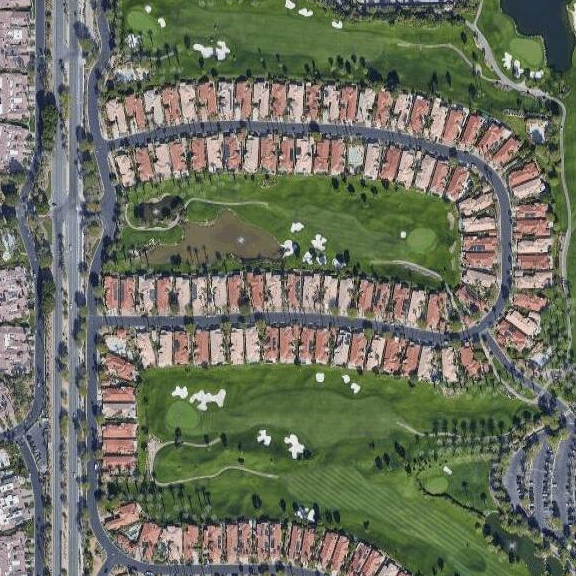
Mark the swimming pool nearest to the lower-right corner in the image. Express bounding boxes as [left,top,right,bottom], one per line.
[529,349,549,367]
